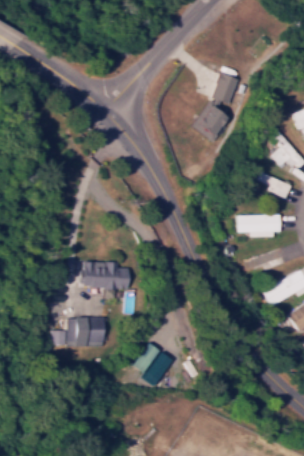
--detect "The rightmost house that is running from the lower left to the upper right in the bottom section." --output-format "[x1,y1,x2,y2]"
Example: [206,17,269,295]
[262,266,304,304]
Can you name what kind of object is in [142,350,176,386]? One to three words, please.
barn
